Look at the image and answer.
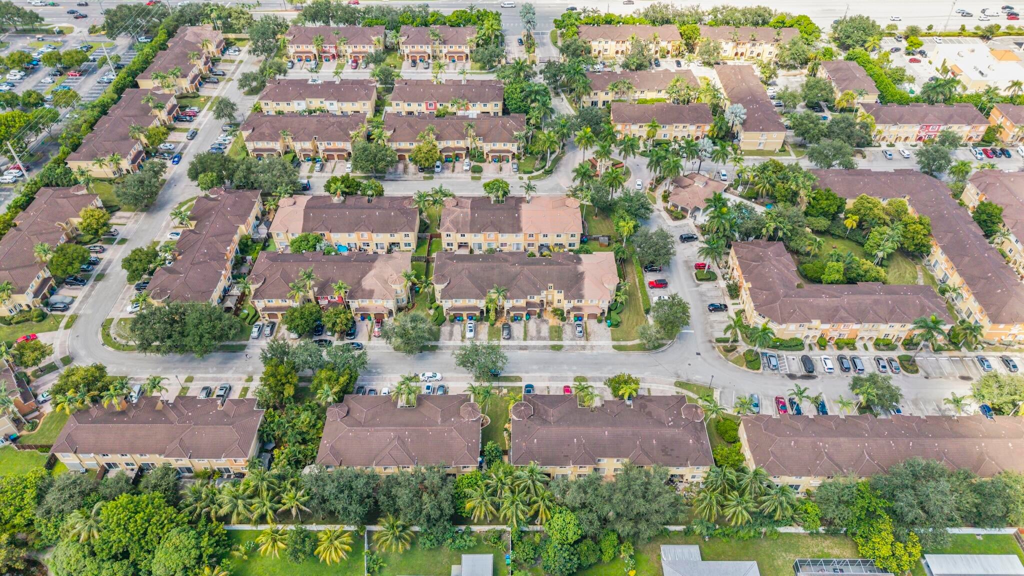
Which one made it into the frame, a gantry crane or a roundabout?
roundabout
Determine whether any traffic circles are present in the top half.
Yes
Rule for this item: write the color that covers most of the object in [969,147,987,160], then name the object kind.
white vehicle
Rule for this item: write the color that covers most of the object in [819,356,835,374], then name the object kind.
white car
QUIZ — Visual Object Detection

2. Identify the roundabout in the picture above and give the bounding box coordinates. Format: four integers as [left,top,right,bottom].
[559,145,648,196]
